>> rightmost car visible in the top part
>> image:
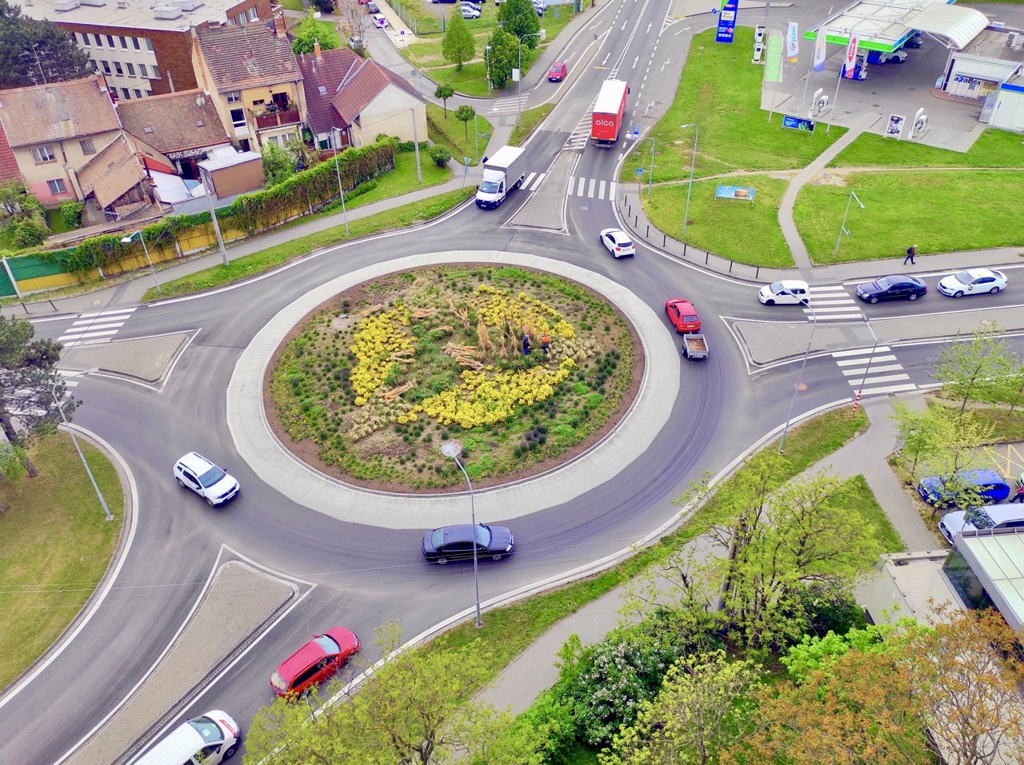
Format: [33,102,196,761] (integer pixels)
[937,266,1009,297]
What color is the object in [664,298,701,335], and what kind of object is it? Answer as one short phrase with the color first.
red car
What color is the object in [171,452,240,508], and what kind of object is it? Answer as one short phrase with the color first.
white car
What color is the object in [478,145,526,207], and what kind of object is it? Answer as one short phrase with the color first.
white truck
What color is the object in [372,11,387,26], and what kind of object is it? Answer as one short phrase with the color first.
white car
